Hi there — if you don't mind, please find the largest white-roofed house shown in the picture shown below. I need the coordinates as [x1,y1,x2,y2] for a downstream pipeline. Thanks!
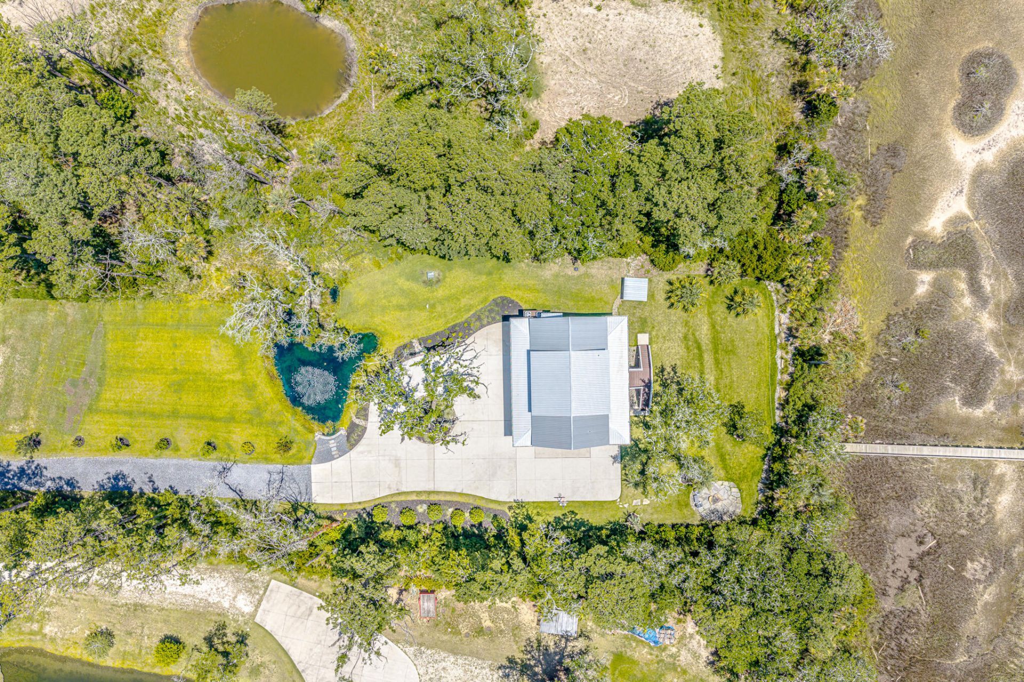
[509,313,631,450]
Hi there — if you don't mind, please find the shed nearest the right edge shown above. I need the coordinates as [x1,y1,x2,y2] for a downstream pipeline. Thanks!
[623,278,648,301]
